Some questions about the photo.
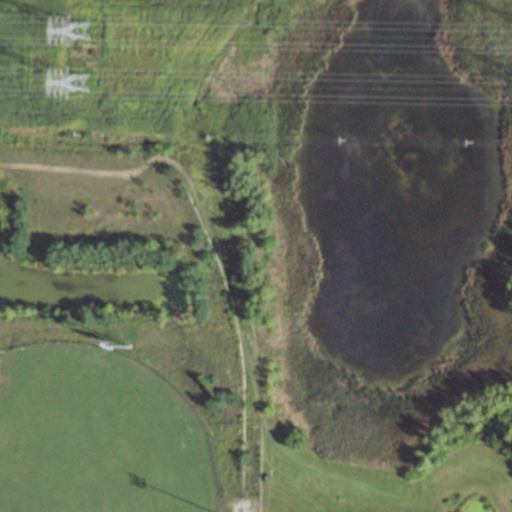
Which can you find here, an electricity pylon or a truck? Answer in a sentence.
I can see an electricity pylon in this picture.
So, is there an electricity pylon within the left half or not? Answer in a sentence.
Yes, there is an electricity pylon within the left half.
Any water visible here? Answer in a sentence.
Yes, water shows up in the scene.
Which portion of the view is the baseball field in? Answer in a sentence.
You can find the baseball field in the bottom left area of the picture.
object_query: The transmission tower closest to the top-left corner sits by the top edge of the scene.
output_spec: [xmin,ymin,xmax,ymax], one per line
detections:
[46,15,90,45]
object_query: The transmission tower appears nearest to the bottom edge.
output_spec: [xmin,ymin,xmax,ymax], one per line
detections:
[46,67,90,96]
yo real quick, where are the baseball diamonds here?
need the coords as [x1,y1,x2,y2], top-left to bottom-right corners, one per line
[0,342,220,512]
